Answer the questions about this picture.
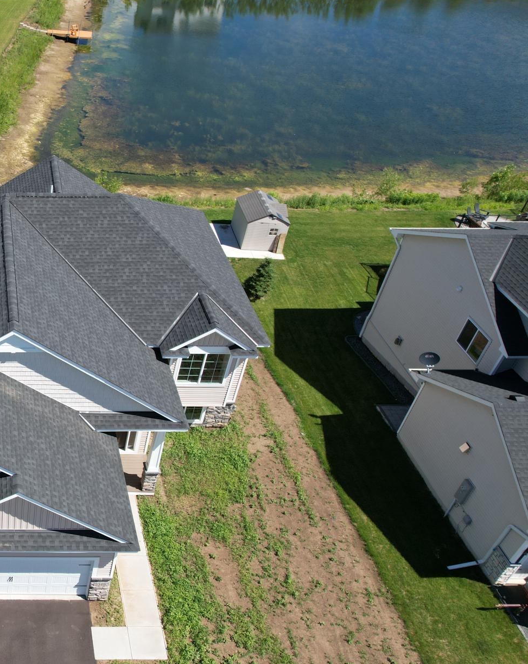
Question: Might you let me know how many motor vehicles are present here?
0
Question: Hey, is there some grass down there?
Yes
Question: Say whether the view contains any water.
Yes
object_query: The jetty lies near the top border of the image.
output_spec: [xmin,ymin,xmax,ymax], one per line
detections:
[50,19,95,43]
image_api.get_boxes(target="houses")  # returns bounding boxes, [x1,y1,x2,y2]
[0,154,271,602]
[359,208,528,598]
